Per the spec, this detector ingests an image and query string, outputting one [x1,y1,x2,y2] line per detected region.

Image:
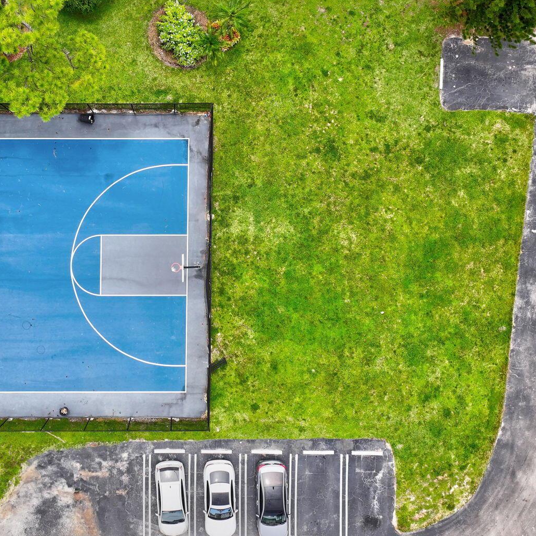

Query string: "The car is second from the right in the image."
[202,459,240,536]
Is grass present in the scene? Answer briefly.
Yes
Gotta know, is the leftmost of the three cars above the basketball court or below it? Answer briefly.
below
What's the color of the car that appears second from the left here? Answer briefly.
white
